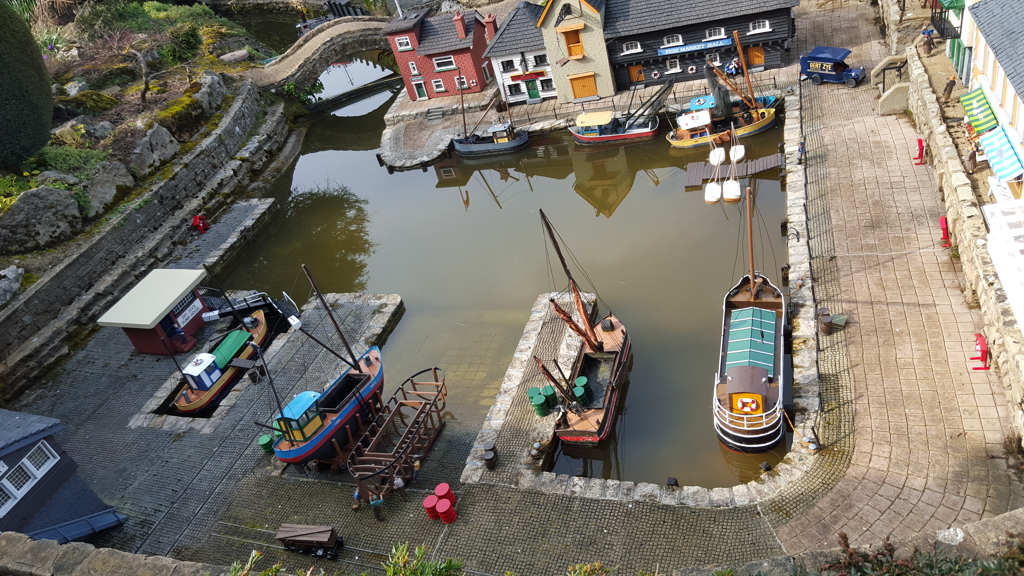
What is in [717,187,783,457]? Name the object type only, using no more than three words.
ship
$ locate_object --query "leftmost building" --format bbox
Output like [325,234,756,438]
[0,400,129,576]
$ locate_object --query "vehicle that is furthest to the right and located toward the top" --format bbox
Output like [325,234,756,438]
[799,49,869,86]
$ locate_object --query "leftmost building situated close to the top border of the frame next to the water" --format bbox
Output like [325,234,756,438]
[377,0,499,101]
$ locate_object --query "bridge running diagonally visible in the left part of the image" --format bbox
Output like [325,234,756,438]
[258,6,401,103]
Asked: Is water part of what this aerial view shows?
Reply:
Yes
